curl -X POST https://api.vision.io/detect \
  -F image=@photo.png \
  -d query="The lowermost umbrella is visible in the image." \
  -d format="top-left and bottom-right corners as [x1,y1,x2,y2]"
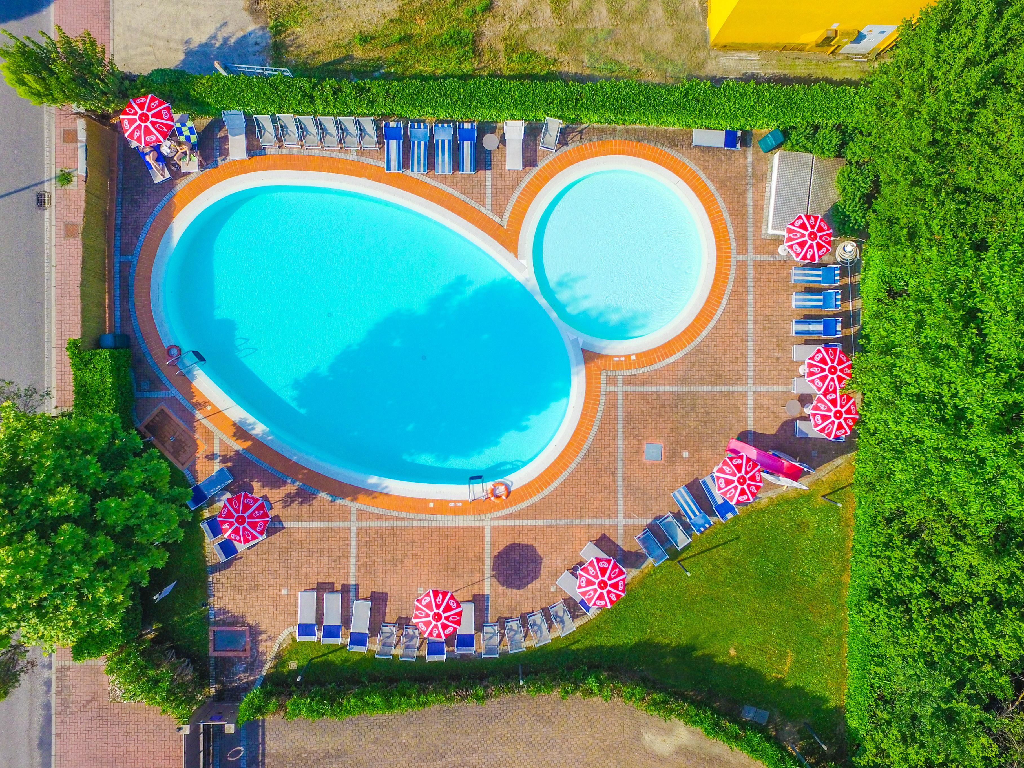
[413,589,462,639]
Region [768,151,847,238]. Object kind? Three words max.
building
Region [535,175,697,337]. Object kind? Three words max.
swimming pool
